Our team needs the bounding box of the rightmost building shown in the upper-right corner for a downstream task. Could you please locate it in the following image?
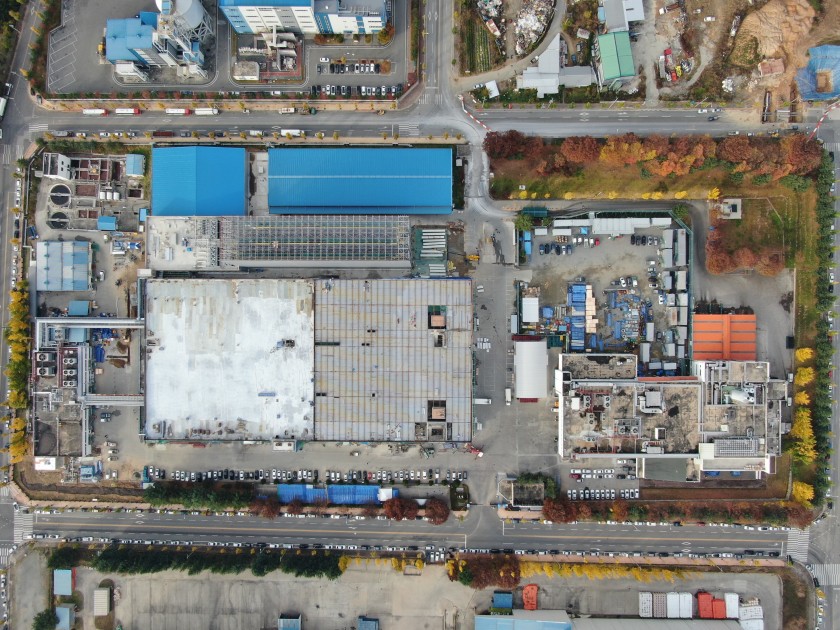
[753,58,785,78]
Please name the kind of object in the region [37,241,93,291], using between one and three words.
building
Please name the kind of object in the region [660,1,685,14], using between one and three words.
vehicle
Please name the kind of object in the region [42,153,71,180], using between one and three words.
house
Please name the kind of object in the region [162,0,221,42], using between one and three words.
silo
